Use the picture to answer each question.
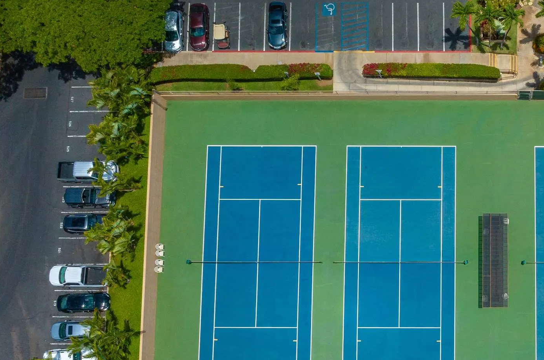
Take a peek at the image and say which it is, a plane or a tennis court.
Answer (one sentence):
Of the two, only a tennis court appears.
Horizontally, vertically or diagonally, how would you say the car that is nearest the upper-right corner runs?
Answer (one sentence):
What the image shows is the car that is nearest the upper-right corner lying vertically.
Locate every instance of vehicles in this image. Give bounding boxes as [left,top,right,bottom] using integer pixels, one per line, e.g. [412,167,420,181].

[187,4,212,53]
[56,160,122,184]
[43,347,97,360]
[212,22,230,49]
[161,9,187,55]
[47,264,111,289]
[50,319,101,342]
[61,213,111,235]
[64,188,115,209]
[56,291,112,314]
[266,2,289,50]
